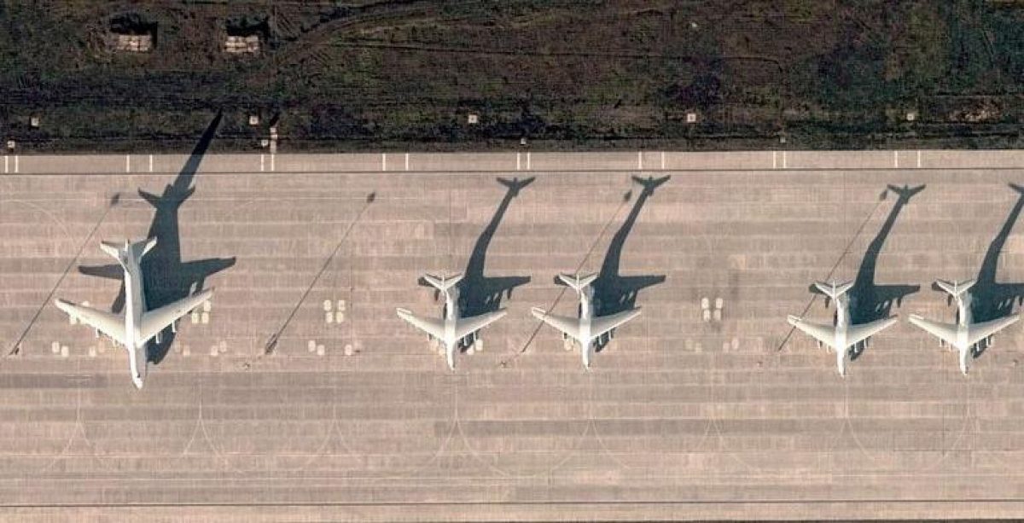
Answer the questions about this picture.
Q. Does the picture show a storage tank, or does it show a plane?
plane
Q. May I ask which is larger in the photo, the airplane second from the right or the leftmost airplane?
the leftmost airplane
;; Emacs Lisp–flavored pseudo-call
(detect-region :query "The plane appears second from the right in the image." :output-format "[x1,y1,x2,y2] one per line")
[786,279,896,377]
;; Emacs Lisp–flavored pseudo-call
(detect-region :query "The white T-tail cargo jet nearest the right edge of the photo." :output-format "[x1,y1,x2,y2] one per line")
[908,277,1019,375]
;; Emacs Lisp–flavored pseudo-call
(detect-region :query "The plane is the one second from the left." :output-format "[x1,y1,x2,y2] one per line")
[397,273,506,370]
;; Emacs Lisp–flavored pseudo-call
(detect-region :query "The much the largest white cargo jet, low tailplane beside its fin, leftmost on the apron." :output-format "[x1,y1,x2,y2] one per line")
[52,240,213,390]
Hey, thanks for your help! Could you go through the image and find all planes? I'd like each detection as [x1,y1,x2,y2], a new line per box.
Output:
[52,240,213,390]
[908,277,1019,375]
[531,272,641,369]
[397,273,506,370]
[786,279,896,377]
